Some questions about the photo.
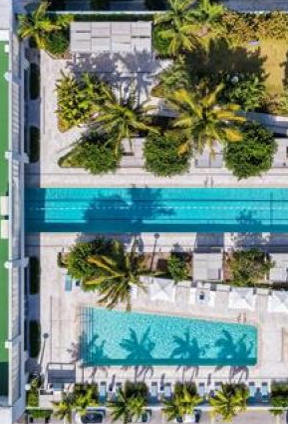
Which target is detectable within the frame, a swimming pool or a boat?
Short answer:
swimming pool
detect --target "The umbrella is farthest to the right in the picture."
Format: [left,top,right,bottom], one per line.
[269,290,288,314]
